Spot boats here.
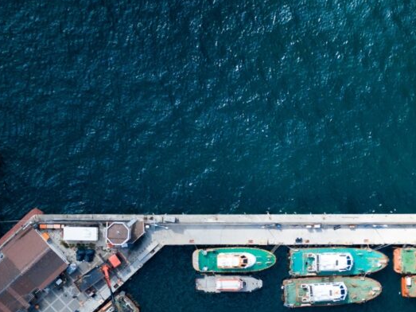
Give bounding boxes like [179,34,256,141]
[393,246,416,275]
[193,247,277,274]
[283,277,382,308]
[100,292,138,312]
[290,248,389,278]
[196,275,262,294]
[401,275,416,298]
